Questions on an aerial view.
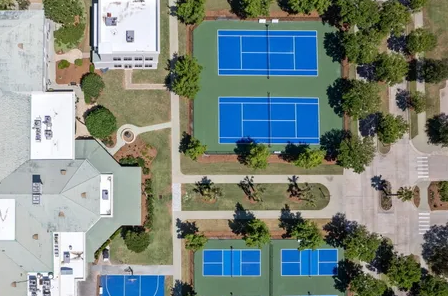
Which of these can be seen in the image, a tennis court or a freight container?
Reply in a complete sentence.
It is a tennis court that can be seen here.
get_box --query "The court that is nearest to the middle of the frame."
[219,92,319,147]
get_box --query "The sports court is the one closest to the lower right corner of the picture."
[281,250,337,277]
